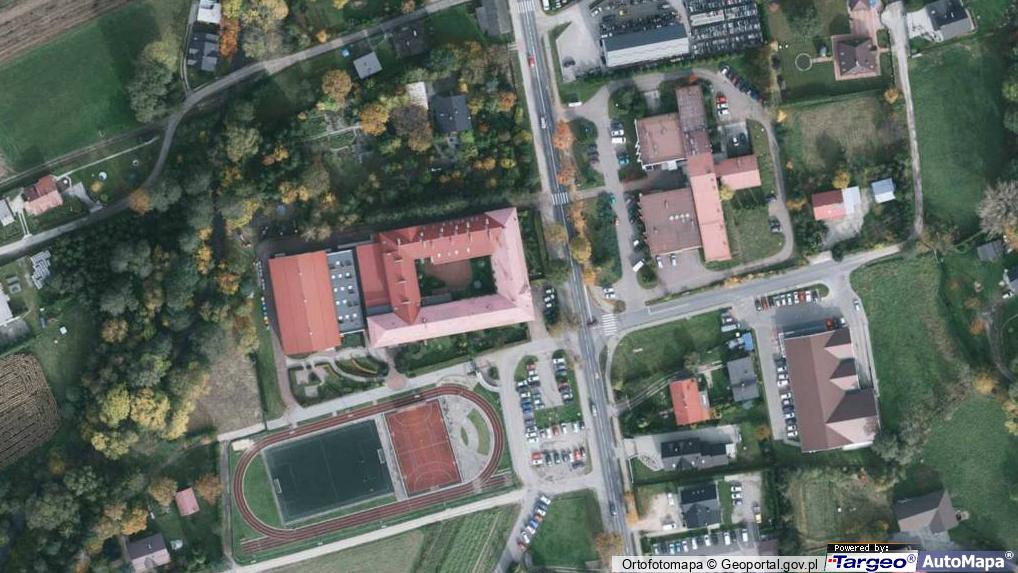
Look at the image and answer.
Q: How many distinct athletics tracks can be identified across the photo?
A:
1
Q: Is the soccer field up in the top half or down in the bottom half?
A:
bottom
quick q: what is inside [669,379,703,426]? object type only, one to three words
house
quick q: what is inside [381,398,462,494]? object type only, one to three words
sports court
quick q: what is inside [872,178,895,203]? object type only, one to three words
shed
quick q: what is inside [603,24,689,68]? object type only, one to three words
building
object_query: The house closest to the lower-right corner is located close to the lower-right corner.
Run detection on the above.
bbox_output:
[892,489,957,533]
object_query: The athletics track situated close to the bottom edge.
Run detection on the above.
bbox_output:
[233,382,512,551]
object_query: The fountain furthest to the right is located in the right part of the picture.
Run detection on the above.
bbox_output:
[795,53,812,71]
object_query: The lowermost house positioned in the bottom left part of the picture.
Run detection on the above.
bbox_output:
[127,533,170,572]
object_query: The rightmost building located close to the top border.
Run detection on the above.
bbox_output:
[926,0,971,41]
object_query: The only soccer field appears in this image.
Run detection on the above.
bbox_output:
[263,422,391,525]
